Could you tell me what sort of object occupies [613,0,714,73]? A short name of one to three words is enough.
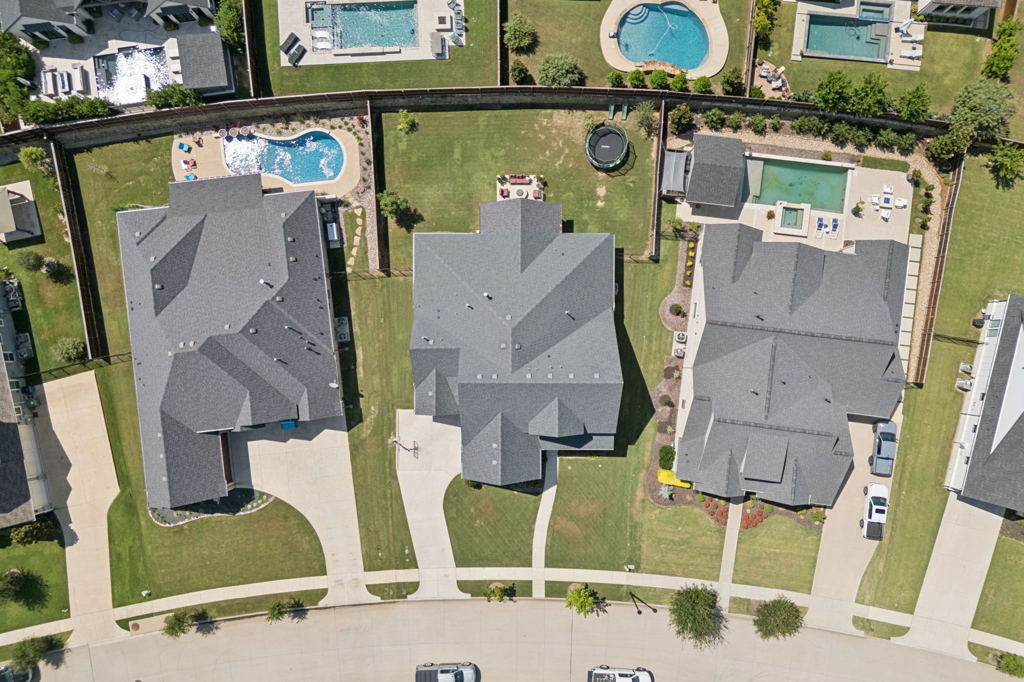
swimming pool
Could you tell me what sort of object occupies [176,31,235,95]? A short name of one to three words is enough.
building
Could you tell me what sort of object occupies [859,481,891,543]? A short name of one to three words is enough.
truck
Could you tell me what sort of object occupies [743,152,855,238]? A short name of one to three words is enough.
swimming pool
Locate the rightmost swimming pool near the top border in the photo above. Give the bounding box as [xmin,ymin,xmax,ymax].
[802,0,895,63]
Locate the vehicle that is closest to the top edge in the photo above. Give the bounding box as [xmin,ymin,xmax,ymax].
[867,418,898,479]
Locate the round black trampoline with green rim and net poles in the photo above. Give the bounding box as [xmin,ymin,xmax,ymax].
[585,120,628,164]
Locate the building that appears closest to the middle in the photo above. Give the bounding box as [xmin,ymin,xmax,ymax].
[410,198,623,486]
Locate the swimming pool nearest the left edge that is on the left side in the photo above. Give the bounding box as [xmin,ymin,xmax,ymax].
[92,44,169,105]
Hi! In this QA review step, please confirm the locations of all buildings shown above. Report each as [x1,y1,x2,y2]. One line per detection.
[0,281,56,528]
[115,172,343,509]
[176,31,235,95]
[673,223,910,506]
[682,132,743,208]
[938,294,1024,512]
[0,0,217,45]
[0,187,32,235]
[410,198,623,486]
[916,0,1001,29]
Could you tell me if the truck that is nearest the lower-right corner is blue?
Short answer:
No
